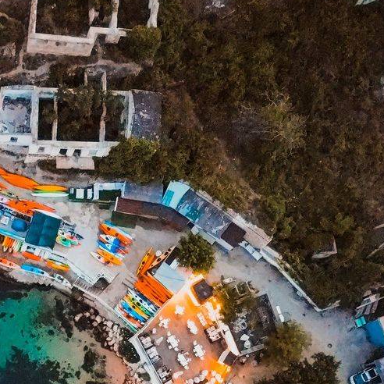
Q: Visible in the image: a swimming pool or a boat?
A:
boat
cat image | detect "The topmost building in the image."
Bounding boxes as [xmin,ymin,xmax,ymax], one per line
[25,0,126,69]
